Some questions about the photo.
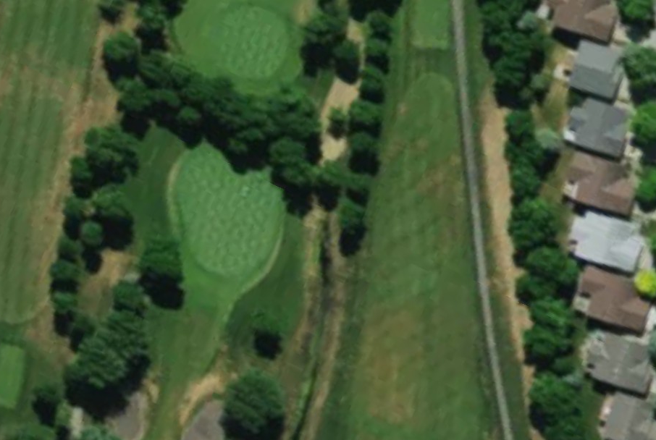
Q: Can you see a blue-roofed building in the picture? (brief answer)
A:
No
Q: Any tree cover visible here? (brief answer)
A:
Yes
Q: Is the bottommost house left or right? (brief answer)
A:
right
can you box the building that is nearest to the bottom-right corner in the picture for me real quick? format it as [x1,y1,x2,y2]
[603,394,656,440]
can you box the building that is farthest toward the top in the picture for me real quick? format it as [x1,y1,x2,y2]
[544,0,620,48]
